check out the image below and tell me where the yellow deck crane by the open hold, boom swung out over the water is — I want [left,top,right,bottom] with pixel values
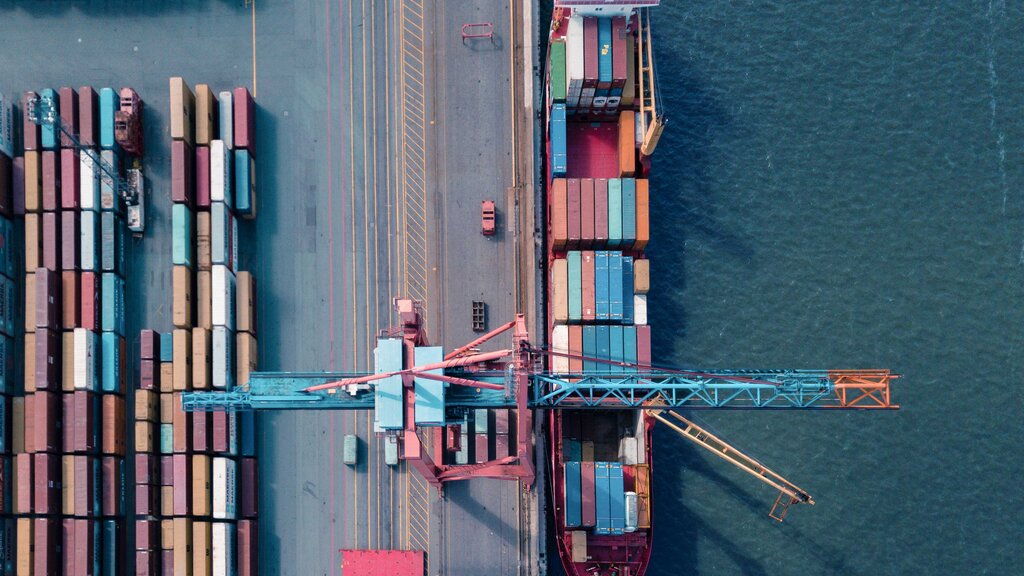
[640,402,816,525]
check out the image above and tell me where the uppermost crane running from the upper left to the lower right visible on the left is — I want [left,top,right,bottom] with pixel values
[28,97,150,238]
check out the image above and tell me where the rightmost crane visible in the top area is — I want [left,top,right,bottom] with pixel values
[634,2,668,179]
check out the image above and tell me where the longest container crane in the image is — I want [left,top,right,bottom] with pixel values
[181,298,900,497]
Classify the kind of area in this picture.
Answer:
port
